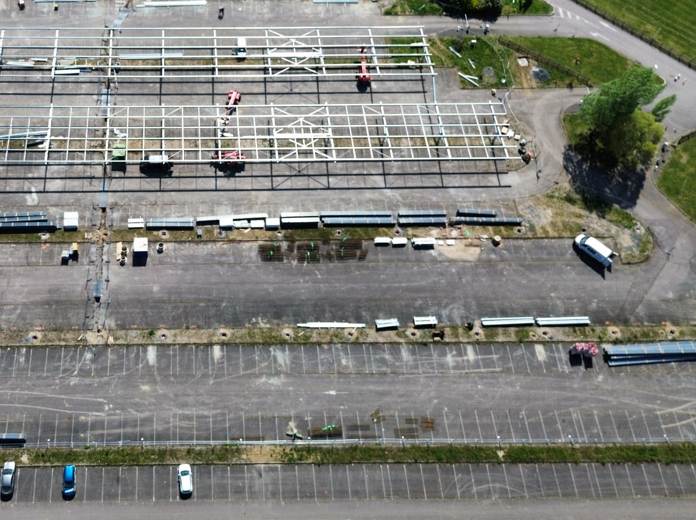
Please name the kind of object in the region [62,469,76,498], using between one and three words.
car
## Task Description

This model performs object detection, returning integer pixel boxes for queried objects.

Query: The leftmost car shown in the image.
[1,464,16,497]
